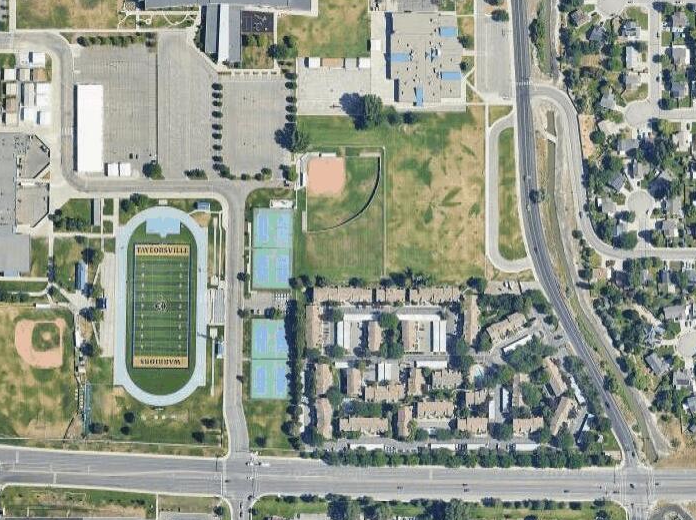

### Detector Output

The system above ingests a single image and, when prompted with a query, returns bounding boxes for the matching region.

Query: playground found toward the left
[241,11,273,32]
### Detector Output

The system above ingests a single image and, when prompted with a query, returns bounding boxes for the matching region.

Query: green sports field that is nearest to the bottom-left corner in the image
[126,222,196,395]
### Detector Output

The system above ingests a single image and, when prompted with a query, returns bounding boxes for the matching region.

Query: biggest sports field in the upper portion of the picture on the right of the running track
[386,112,484,281]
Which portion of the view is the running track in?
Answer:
left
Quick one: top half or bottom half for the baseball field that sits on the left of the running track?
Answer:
bottom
